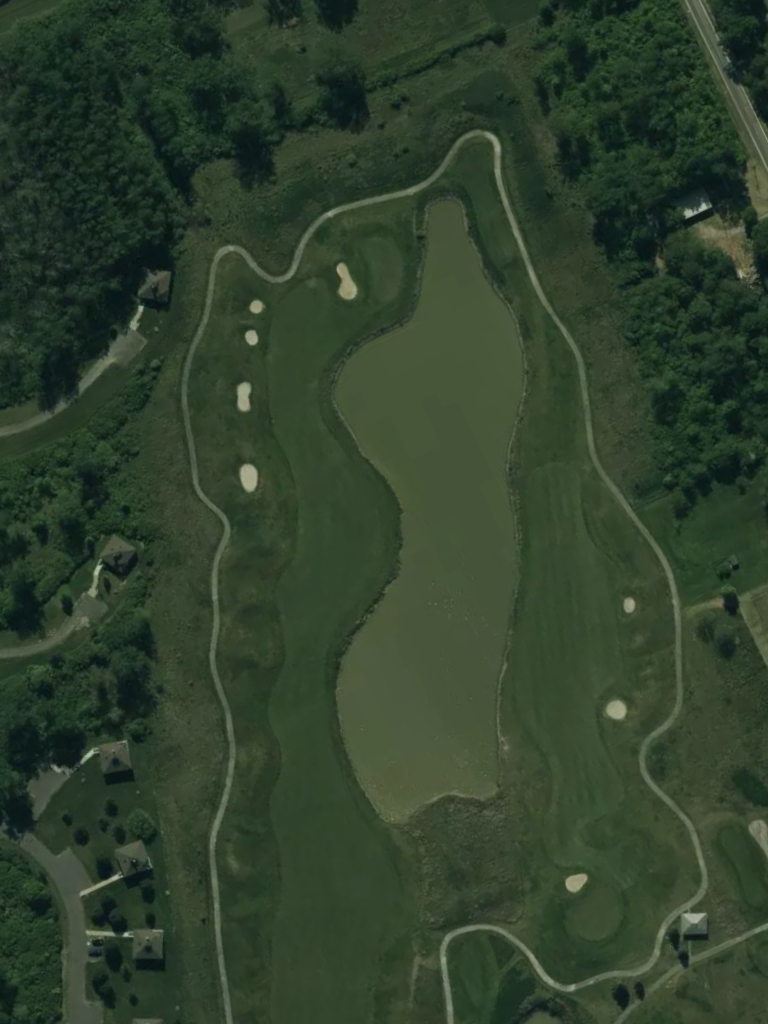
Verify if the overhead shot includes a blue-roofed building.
No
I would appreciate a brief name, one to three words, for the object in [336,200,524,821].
pond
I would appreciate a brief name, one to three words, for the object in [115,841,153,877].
building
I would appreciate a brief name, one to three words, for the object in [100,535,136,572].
building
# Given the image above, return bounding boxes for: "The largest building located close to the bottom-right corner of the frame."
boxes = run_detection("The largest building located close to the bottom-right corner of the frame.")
[681,913,707,934]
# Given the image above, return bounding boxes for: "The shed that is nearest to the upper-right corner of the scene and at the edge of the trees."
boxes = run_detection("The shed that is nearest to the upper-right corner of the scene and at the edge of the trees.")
[676,186,712,219]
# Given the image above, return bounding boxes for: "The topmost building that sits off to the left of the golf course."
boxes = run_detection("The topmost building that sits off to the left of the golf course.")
[138,269,171,301]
